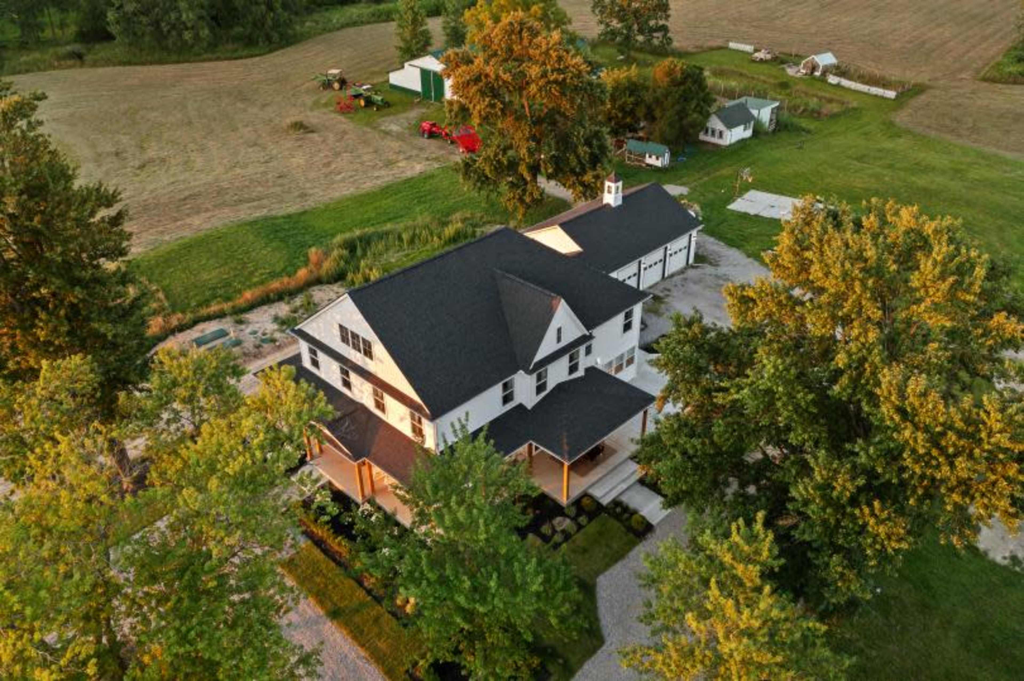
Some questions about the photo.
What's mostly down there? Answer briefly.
trees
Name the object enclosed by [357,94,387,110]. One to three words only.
work vehicle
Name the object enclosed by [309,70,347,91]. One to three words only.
work vehicle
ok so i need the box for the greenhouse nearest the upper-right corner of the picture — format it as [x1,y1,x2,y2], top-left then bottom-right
[800,49,837,75]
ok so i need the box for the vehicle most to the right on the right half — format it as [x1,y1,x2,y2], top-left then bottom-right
[746,46,780,61]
